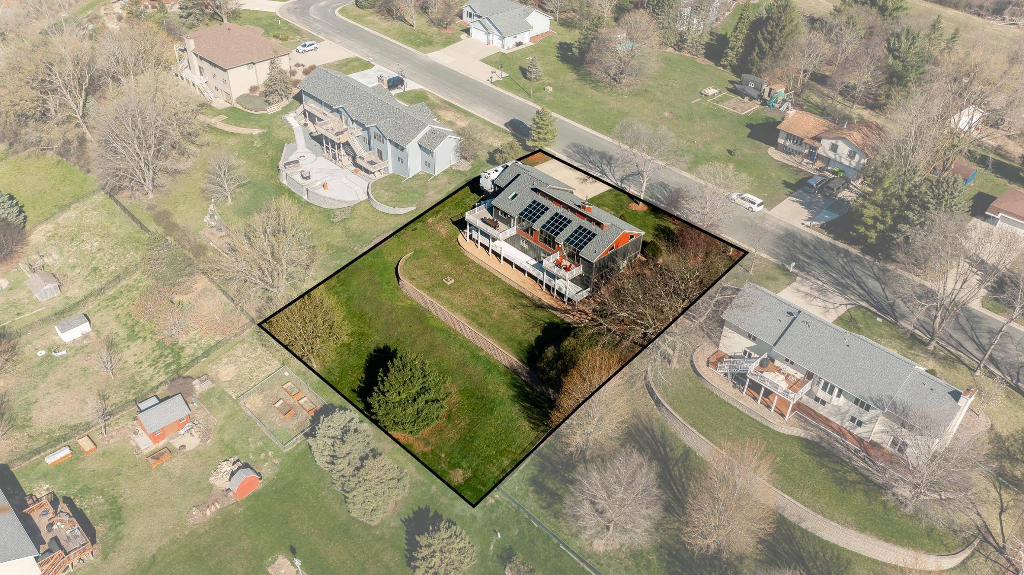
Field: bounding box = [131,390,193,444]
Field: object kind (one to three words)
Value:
shed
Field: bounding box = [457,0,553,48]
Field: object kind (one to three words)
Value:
house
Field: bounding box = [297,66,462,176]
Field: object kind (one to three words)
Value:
house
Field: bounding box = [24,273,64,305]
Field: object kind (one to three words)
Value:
shed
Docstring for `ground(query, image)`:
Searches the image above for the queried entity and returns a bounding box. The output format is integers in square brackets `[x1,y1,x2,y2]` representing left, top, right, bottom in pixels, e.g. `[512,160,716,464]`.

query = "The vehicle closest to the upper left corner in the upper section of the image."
[297,40,320,54]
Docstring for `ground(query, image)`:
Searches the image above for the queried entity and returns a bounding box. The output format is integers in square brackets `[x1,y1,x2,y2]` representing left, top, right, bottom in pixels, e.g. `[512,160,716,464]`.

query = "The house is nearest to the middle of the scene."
[488,163,643,287]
